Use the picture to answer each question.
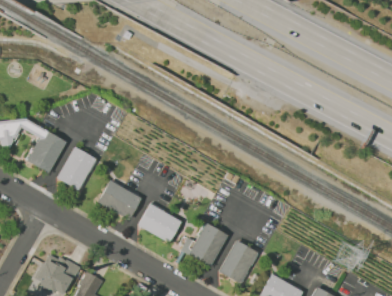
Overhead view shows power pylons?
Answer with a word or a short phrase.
Yes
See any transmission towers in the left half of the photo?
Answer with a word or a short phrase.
No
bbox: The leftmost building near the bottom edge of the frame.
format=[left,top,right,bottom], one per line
[28,257,80,296]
